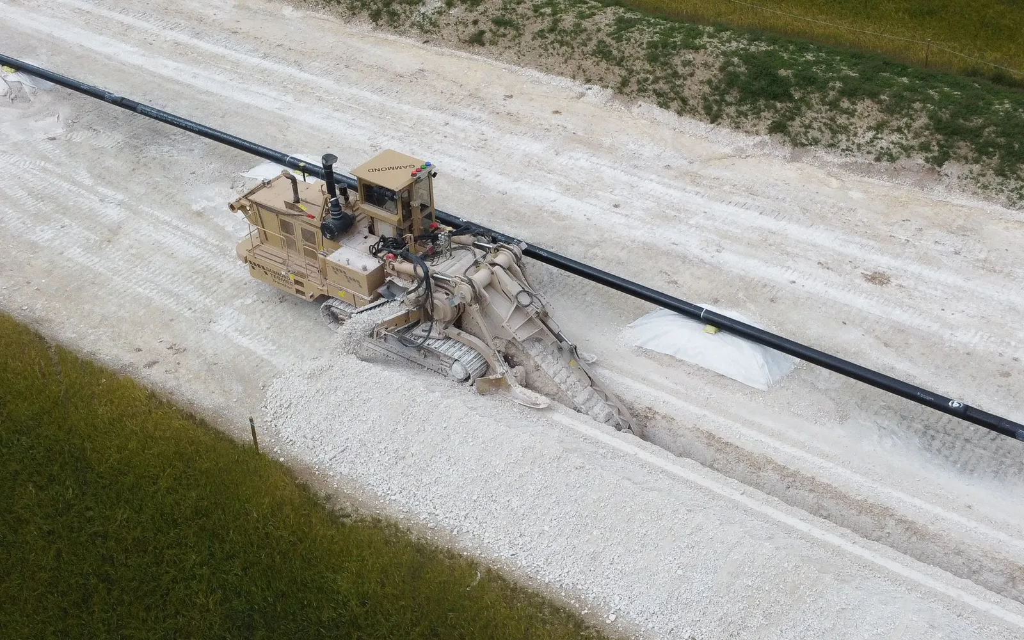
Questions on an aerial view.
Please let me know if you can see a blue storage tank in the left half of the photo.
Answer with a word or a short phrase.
No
